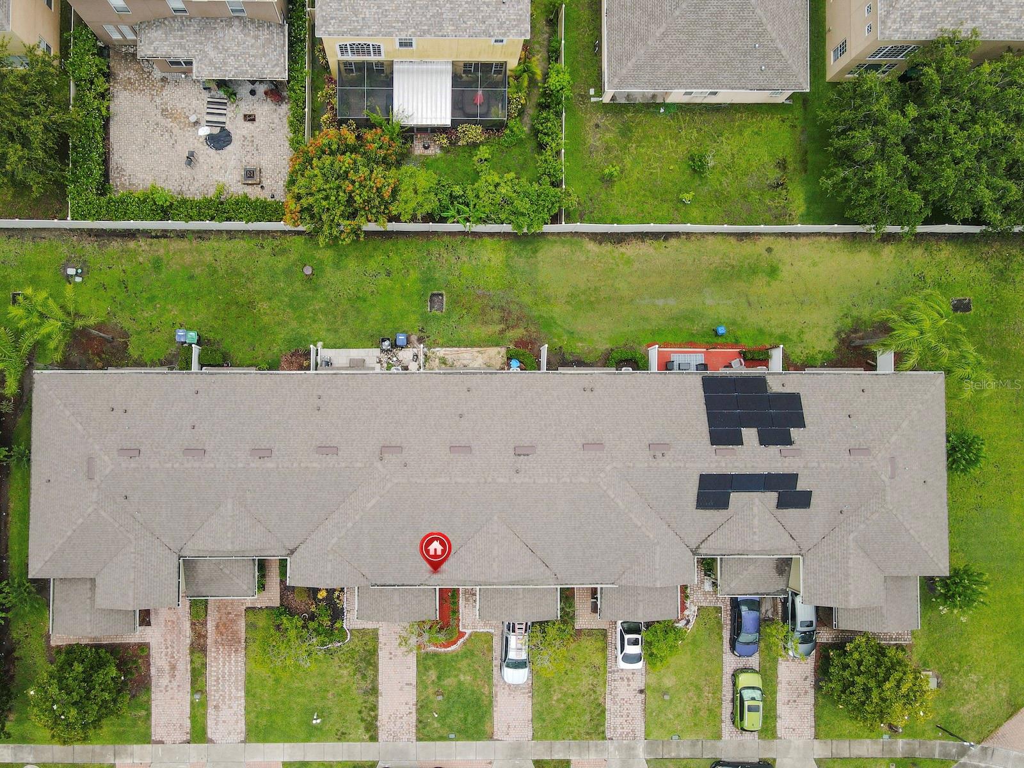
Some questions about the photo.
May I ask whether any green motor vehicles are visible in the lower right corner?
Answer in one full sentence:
Yes, in the lower right corner there is a green motor vehicle.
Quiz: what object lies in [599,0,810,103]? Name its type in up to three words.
house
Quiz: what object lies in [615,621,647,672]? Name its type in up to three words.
car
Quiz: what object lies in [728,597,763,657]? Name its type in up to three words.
car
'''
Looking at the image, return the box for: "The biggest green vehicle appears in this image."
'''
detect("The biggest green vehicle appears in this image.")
[730,667,766,731]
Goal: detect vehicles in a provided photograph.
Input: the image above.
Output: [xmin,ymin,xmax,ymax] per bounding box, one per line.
[730,667,766,731]
[781,591,820,659]
[500,622,533,686]
[728,597,763,657]
[615,621,647,672]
